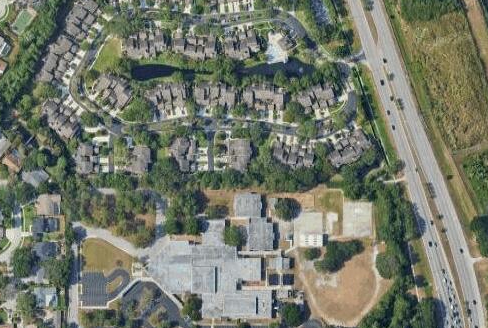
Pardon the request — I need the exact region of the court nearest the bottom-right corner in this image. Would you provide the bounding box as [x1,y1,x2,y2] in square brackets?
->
[343,202,372,237]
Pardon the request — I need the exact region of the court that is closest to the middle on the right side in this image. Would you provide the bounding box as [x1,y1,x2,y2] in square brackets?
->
[294,213,322,234]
